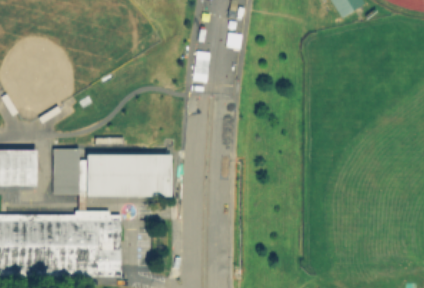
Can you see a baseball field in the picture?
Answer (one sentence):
Yes, the frame does contain a baseball field.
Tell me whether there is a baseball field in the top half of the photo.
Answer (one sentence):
Yes, a baseball field shows up in the top half of the photo.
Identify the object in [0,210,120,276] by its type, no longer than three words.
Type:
building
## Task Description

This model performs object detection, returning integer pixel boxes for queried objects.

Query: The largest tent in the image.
[193,50,210,83]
